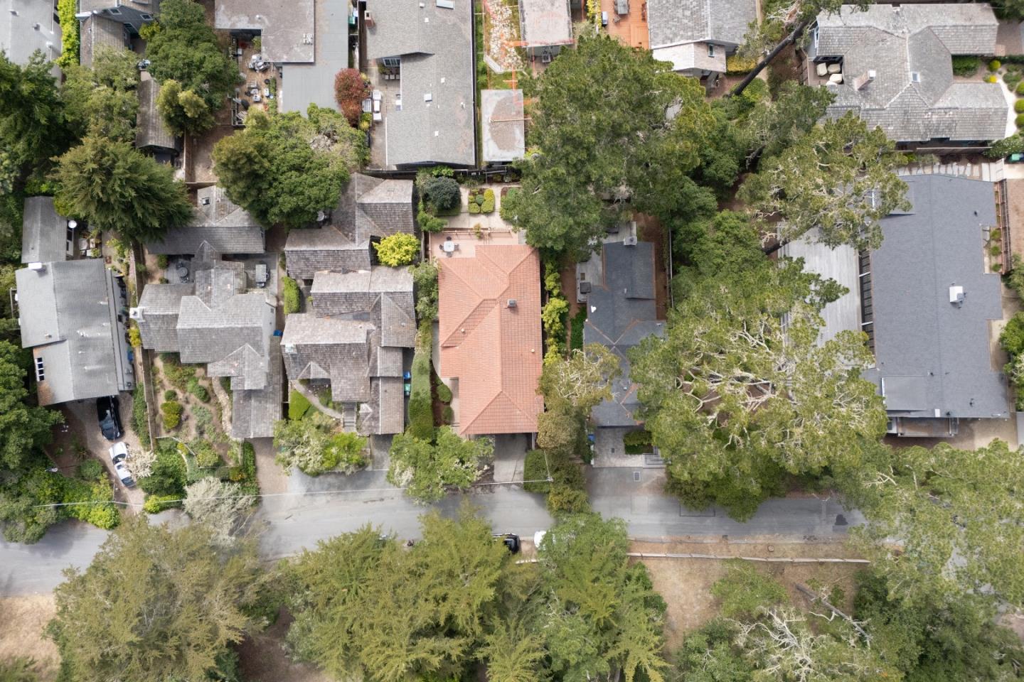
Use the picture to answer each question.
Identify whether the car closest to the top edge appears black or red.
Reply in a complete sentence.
The car closest to the top edge looks black in the image.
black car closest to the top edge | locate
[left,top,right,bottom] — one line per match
[94,393,130,441]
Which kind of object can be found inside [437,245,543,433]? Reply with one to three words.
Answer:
house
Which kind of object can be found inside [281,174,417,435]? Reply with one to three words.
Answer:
house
